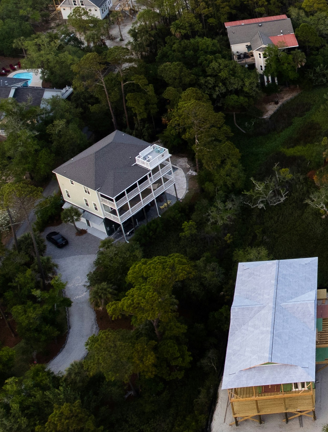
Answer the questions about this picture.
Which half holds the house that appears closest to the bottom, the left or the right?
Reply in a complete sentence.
The house that appears closest to the bottom appears in the right half of the scene.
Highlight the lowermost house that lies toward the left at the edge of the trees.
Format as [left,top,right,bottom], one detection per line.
[53,131,181,236]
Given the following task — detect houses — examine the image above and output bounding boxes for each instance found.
[53,131,181,236]
[225,13,298,86]
[44,0,144,34]
[0,77,94,150]
[222,257,328,430]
